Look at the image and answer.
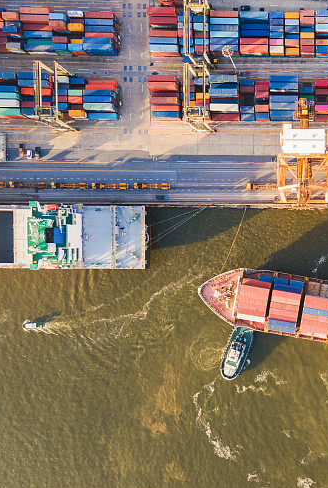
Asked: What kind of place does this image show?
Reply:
port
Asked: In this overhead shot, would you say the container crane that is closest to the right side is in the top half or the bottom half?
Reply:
top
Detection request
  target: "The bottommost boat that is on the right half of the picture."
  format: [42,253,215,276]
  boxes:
[223,324,257,380]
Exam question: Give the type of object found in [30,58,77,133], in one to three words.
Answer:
container crane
